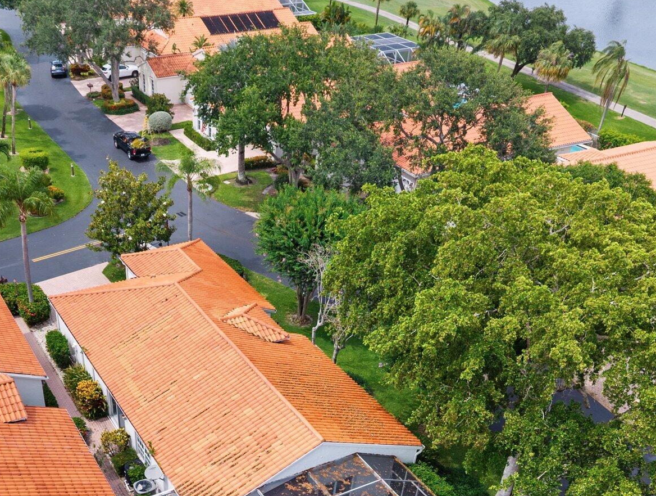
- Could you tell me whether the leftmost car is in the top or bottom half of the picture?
top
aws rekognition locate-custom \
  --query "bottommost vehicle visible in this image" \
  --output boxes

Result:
[111,124,154,154]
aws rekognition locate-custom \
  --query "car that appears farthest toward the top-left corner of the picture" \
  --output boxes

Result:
[47,56,70,76]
